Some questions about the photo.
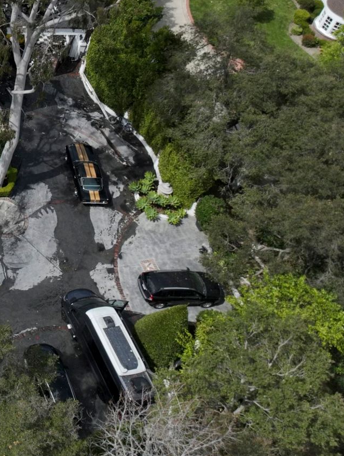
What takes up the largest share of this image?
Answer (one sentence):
The bulk of the photo consists of trees.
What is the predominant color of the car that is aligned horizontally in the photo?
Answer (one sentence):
The color of the car that is aligned horizontally is black.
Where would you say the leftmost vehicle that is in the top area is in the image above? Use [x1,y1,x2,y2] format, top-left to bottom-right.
[64,143,111,206]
